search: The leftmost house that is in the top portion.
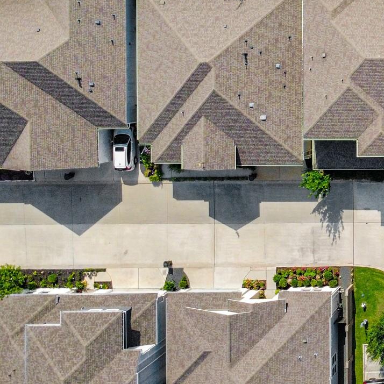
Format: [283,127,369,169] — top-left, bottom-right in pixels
[0,0,137,170]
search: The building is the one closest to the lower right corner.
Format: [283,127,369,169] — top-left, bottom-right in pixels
[166,285,333,384]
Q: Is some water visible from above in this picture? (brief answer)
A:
No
